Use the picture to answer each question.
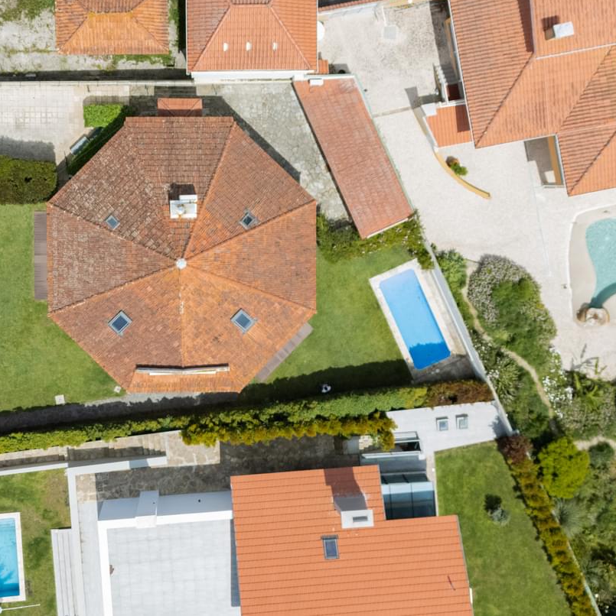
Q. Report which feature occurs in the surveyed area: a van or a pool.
pool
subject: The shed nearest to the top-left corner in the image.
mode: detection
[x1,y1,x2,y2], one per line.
[55,0,170,55]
